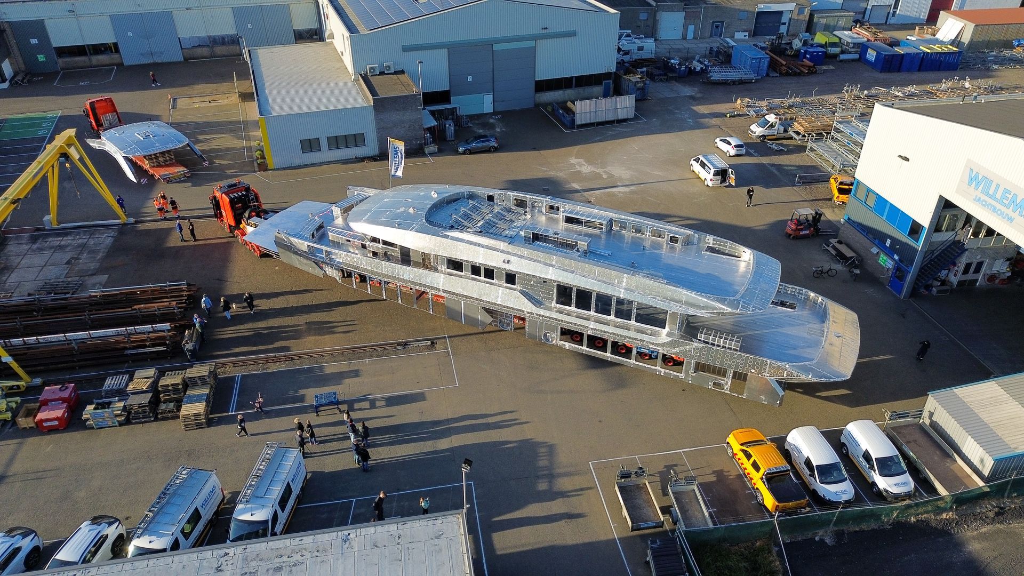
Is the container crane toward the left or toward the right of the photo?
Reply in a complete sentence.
You can find the container crane on the left side of the picture.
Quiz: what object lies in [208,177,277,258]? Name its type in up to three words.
truck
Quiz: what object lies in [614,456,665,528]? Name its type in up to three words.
trailer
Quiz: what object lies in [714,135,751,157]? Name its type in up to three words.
car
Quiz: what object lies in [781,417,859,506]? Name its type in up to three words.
van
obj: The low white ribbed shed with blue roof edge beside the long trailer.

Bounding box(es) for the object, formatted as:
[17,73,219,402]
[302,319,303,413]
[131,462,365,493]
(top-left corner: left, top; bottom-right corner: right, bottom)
[925,367,1024,477]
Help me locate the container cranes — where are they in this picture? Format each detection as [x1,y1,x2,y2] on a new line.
[0,122,138,224]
